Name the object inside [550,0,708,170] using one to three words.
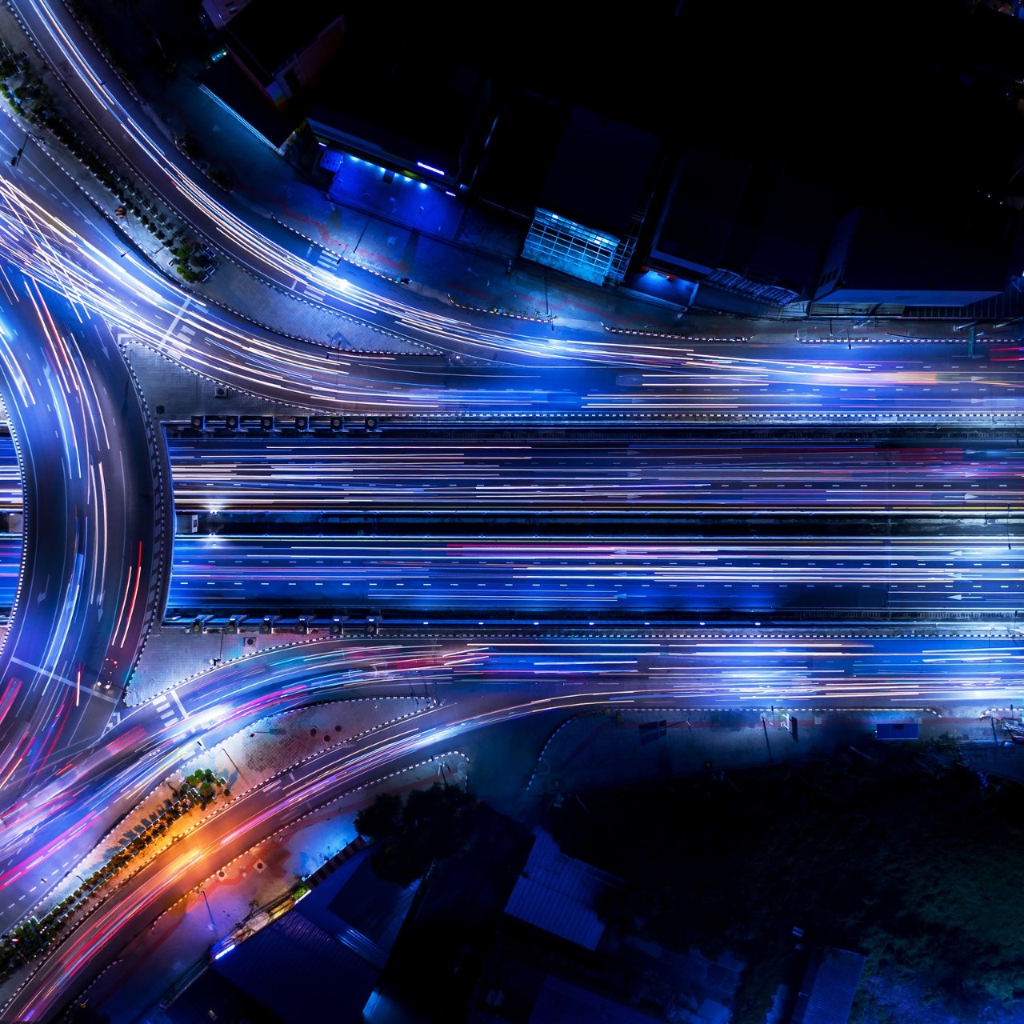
building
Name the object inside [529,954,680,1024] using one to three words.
house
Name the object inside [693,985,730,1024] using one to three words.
shed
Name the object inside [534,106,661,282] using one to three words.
building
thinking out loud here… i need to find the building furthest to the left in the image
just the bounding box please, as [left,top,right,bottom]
[100,0,184,58]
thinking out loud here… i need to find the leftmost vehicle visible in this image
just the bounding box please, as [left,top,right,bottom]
[96,659,116,690]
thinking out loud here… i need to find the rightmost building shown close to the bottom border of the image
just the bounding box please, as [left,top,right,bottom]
[793,927,866,1024]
